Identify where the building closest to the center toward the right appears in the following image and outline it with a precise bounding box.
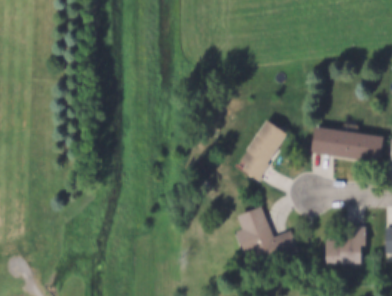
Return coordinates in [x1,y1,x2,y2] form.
[237,120,288,179]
